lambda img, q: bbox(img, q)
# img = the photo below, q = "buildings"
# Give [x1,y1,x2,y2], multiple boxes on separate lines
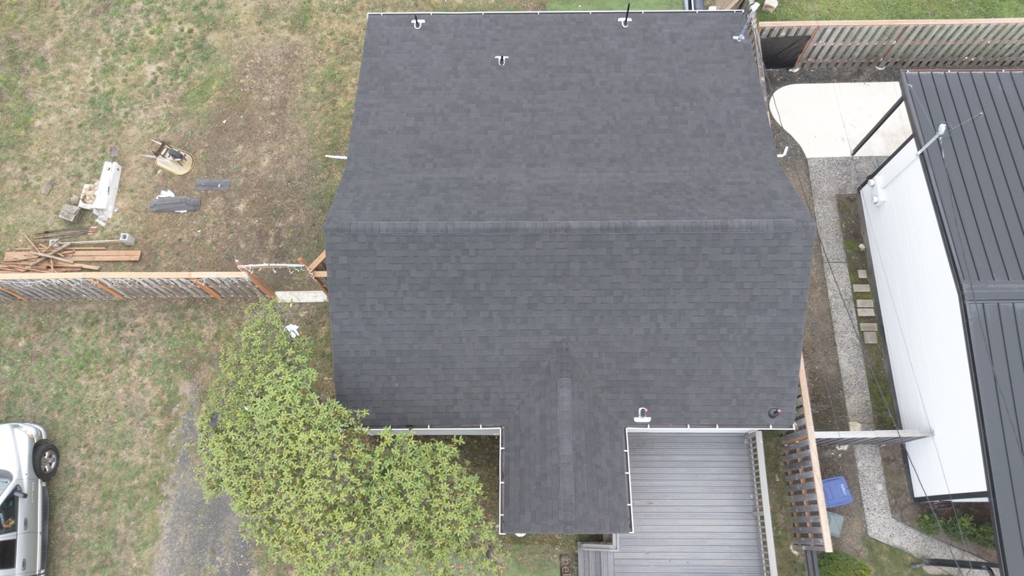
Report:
[324,0,816,534]
[850,66,1024,576]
